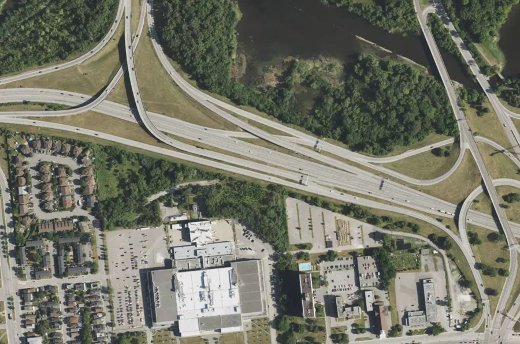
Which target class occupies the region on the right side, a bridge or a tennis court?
bridge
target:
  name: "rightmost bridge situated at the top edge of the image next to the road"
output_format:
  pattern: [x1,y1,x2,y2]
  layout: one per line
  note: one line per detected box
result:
[417,16,453,94]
